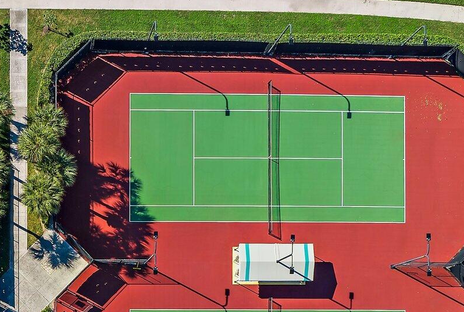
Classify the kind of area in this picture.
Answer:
sports ground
